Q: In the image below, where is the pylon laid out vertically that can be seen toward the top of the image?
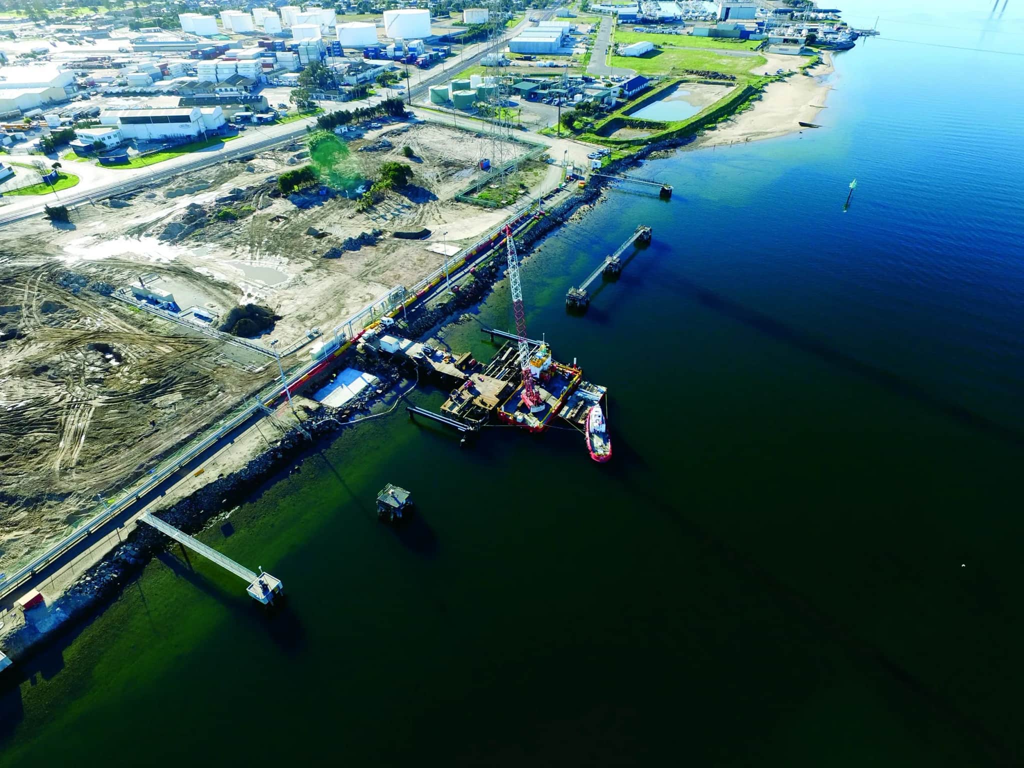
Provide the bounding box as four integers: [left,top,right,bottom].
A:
[467,0,523,201]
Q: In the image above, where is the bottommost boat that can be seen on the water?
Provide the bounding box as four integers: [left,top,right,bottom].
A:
[585,403,614,457]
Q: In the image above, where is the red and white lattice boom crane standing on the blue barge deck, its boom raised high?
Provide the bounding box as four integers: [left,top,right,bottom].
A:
[505,229,546,404]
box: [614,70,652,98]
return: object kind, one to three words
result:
house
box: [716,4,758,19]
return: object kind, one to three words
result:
shed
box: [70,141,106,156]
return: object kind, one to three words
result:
building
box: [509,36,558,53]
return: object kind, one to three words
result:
building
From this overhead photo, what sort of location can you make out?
port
